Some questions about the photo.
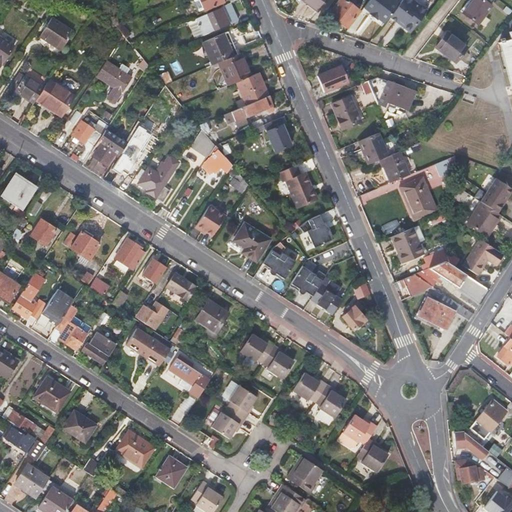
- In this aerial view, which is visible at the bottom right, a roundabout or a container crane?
roundabout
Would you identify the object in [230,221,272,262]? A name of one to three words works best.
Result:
house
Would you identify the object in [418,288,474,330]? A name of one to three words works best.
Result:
building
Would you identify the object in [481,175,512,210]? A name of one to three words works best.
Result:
house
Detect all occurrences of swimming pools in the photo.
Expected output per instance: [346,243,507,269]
[272,279,286,292]
[170,60,183,76]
